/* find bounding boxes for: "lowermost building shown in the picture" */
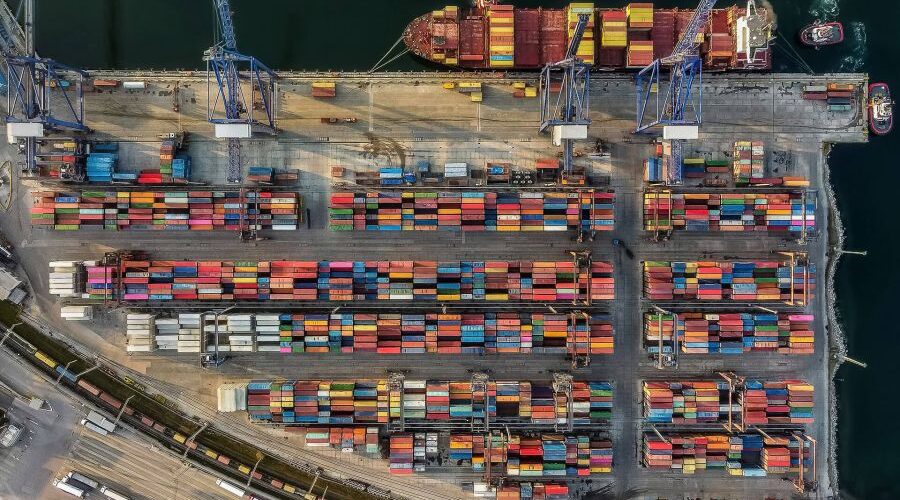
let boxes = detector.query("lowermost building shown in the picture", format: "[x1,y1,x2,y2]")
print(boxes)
[0,421,31,449]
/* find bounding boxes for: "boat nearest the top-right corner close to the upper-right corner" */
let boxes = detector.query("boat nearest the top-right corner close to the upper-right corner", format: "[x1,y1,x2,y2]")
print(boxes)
[798,24,843,47]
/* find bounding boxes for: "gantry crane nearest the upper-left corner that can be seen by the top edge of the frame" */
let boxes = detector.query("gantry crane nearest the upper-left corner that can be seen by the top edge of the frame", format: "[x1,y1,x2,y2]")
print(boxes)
[0,0,102,170]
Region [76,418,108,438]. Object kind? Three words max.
vehicle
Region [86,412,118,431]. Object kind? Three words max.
vehicle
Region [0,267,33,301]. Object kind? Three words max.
building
